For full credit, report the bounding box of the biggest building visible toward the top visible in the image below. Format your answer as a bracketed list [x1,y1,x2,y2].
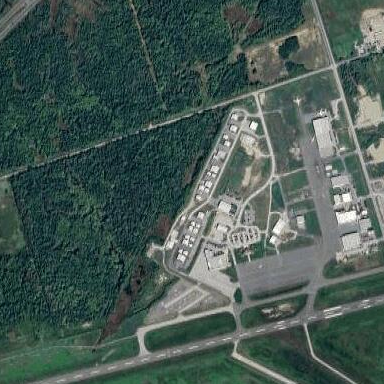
[312,116,337,157]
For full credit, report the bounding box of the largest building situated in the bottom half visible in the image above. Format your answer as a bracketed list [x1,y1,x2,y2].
[206,248,229,269]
